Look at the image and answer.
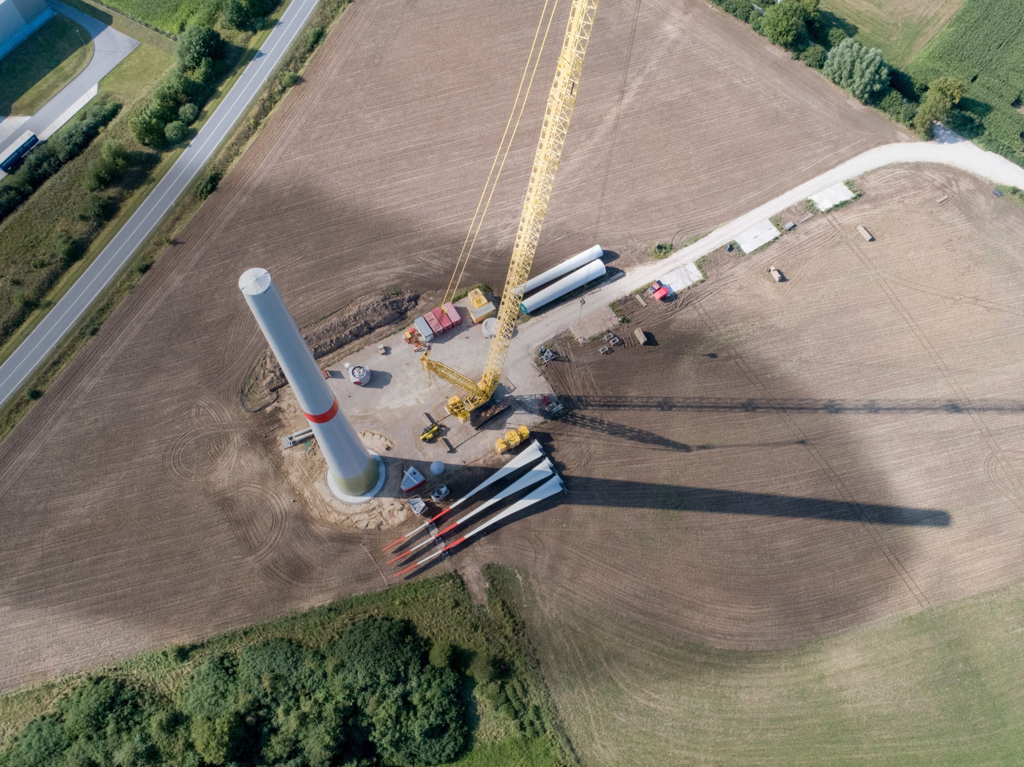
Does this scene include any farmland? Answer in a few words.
Yes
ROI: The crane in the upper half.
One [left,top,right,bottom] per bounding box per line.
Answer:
[416,0,626,434]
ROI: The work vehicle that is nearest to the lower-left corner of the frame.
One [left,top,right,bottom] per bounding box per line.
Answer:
[420,418,451,442]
